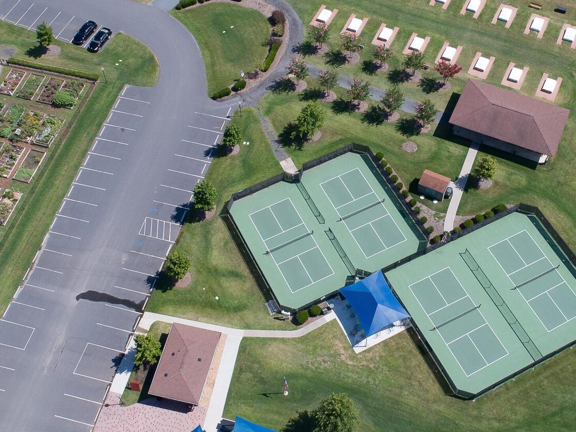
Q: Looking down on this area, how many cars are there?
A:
2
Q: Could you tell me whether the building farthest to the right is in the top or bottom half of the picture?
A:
top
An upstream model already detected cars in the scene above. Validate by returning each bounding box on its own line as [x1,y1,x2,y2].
[87,27,111,51]
[73,20,97,44]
